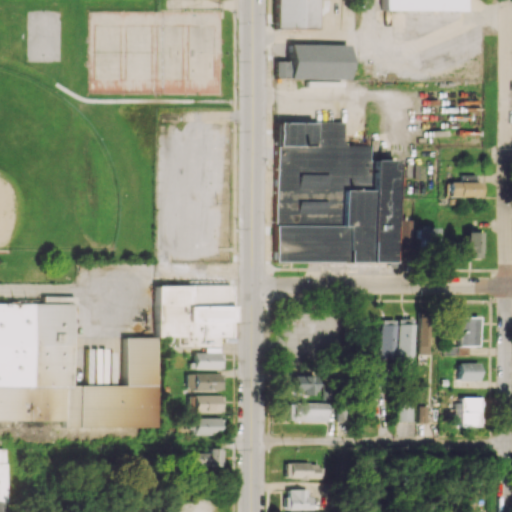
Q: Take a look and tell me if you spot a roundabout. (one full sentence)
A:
No, no roundabout can be seen from above.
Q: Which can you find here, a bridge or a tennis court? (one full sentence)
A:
The one in the frame is a tennis court.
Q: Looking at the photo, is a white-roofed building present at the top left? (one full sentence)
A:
No, no white-roofed building can be made out at the top left.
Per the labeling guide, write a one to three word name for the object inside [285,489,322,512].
house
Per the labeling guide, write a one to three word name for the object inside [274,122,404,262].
building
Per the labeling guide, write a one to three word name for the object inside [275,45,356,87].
building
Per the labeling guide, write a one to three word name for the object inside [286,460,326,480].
house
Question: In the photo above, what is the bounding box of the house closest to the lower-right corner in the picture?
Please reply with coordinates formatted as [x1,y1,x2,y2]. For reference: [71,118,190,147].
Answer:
[453,397,485,428]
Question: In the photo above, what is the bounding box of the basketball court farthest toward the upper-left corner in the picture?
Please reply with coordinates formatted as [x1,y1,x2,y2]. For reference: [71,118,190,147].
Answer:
[27,11,62,62]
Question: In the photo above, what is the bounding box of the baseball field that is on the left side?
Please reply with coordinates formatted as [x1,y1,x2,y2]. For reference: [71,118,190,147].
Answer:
[0,62,115,253]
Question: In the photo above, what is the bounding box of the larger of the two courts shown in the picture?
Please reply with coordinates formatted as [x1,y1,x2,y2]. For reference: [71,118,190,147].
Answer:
[88,11,222,96]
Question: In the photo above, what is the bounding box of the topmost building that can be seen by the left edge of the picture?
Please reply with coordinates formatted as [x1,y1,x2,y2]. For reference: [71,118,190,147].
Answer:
[0,296,158,429]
